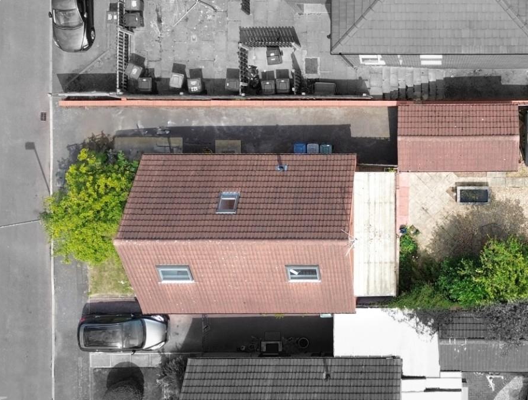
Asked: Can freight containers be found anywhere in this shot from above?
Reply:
No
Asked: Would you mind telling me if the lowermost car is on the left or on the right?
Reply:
left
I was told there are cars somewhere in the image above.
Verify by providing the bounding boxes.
[74,310,173,358]
[46,0,98,54]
